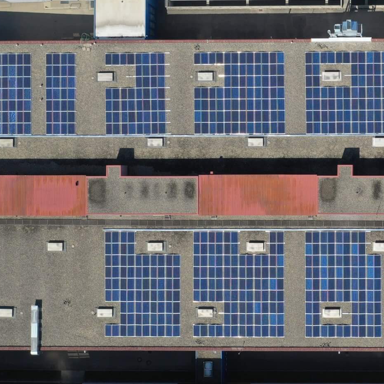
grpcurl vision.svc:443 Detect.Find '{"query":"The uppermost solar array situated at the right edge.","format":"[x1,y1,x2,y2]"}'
[306,51,384,134]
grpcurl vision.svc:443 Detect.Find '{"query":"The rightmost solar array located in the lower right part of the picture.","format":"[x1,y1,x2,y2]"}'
[305,231,382,338]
